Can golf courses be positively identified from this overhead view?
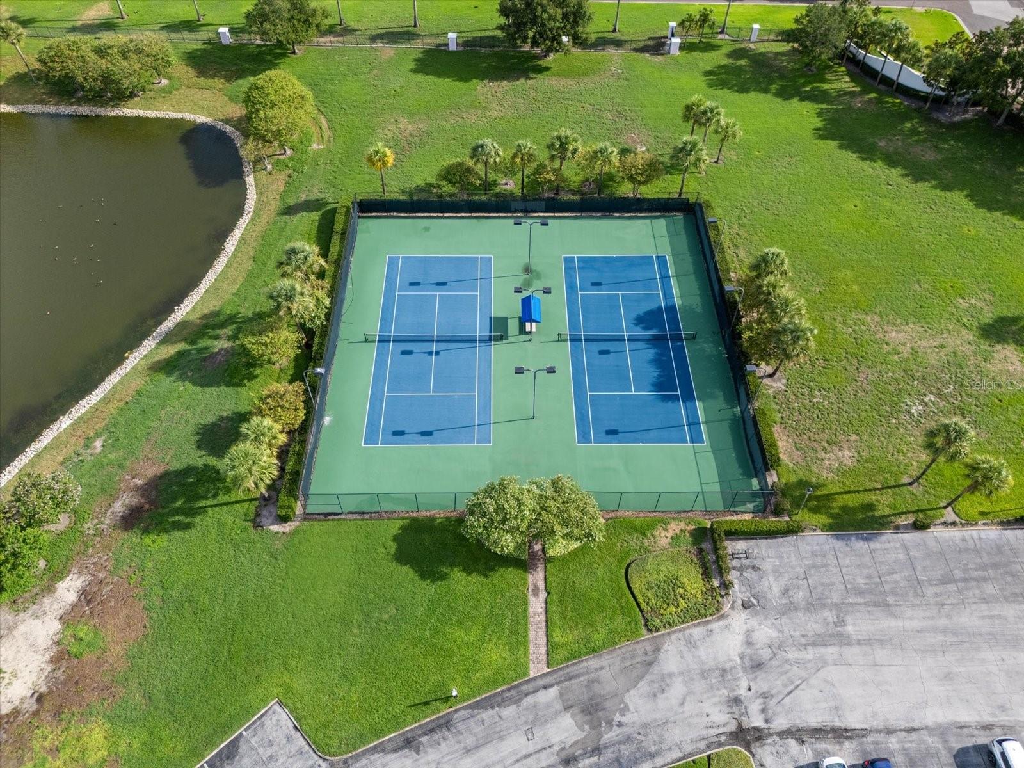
No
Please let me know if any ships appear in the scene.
No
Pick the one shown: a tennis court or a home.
tennis court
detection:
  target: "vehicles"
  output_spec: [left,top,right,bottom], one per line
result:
[861,756,893,768]
[820,755,852,768]
[993,738,1024,768]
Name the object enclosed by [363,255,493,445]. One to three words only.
tennis court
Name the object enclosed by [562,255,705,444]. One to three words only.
tennis court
